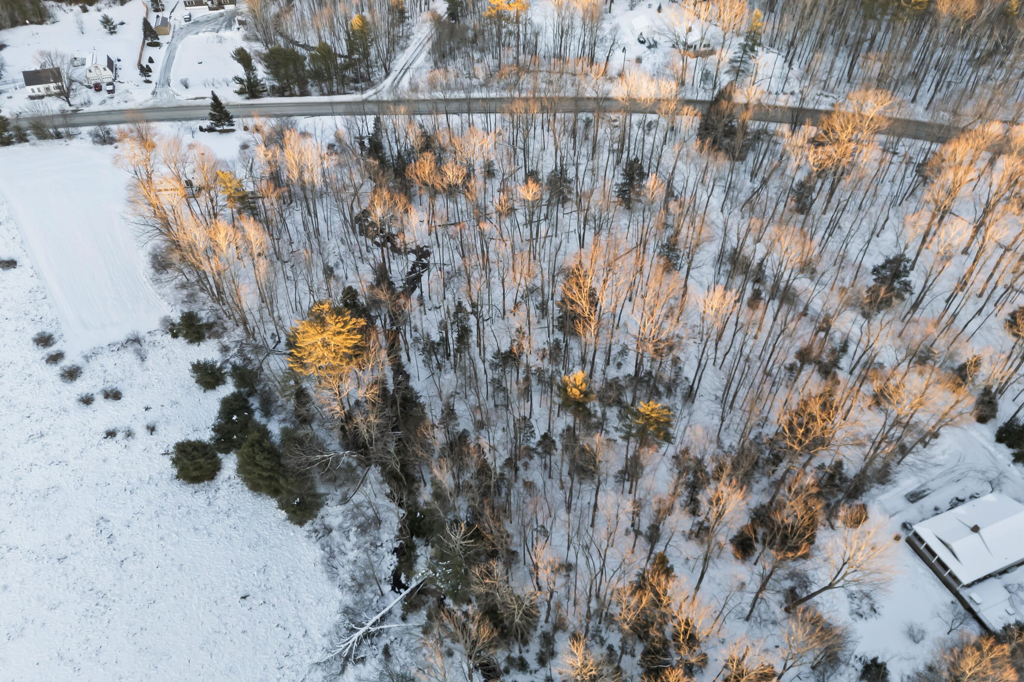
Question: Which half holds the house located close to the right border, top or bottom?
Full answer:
It is in the bottom half that the house located close to the right border appears.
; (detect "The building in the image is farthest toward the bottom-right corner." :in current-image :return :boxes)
[906,485,1024,638]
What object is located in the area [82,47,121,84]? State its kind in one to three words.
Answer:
barn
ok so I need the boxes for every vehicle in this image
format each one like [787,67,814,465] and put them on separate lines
[637,33,649,43]
[183,12,192,22]
[91,81,102,92]
[104,81,115,93]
